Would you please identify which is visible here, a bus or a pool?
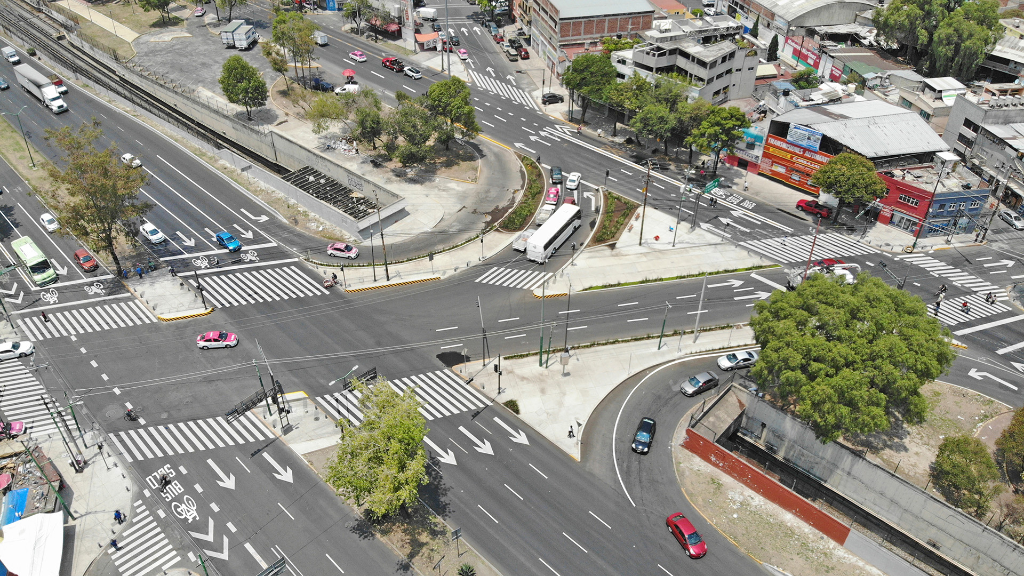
bus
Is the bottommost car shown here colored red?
Yes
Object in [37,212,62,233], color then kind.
white car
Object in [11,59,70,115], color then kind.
white truck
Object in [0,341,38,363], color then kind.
white car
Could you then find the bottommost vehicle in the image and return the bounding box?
[667,512,705,561]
